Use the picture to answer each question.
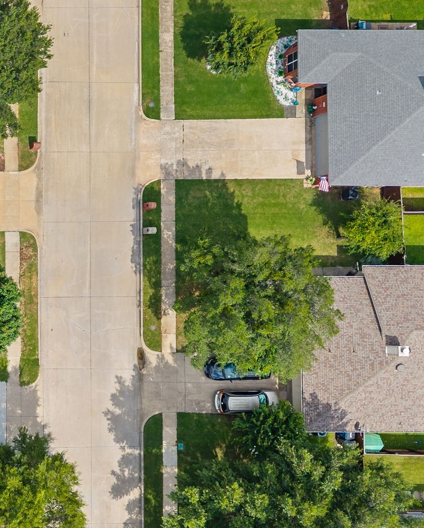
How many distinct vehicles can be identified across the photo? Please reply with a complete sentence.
The count of vehicles comes to 2.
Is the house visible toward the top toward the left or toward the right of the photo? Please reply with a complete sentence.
You can find the house visible toward the top on the right side of the picture.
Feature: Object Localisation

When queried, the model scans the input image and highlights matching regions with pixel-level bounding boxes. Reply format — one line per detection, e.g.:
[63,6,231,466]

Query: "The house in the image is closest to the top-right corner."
[283,28,424,188]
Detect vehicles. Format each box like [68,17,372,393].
[202,358,270,385]
[213,388,277,417]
